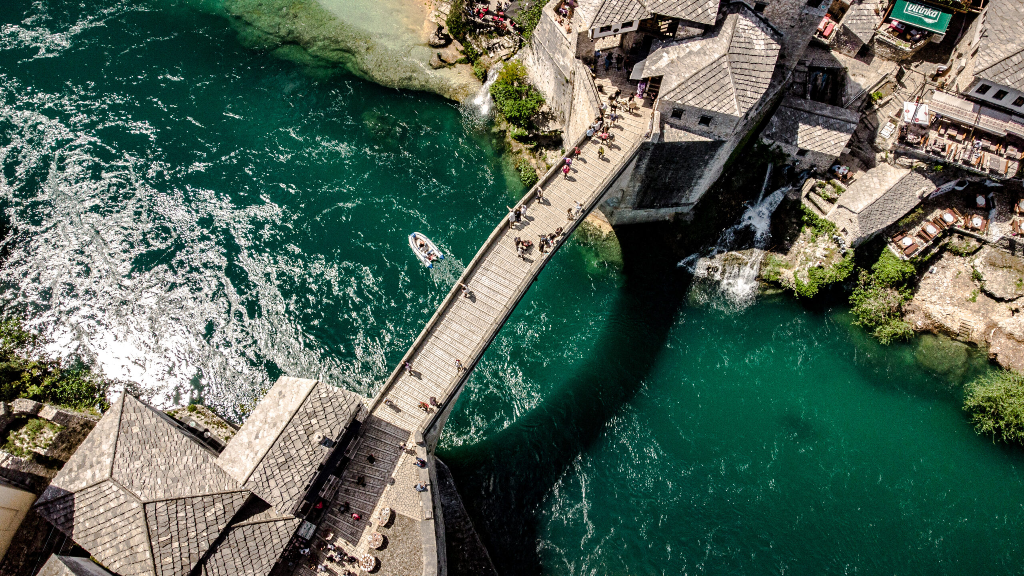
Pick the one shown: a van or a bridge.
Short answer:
bridge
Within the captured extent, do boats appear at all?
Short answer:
Yes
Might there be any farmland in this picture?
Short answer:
No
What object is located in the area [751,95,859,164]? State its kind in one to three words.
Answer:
house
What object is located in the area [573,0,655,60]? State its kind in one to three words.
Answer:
building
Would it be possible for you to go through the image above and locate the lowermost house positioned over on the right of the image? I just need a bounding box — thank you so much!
[831,162,935,244]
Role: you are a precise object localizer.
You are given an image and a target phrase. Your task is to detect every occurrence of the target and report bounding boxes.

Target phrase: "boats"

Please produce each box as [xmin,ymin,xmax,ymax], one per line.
[410,230,446,269]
